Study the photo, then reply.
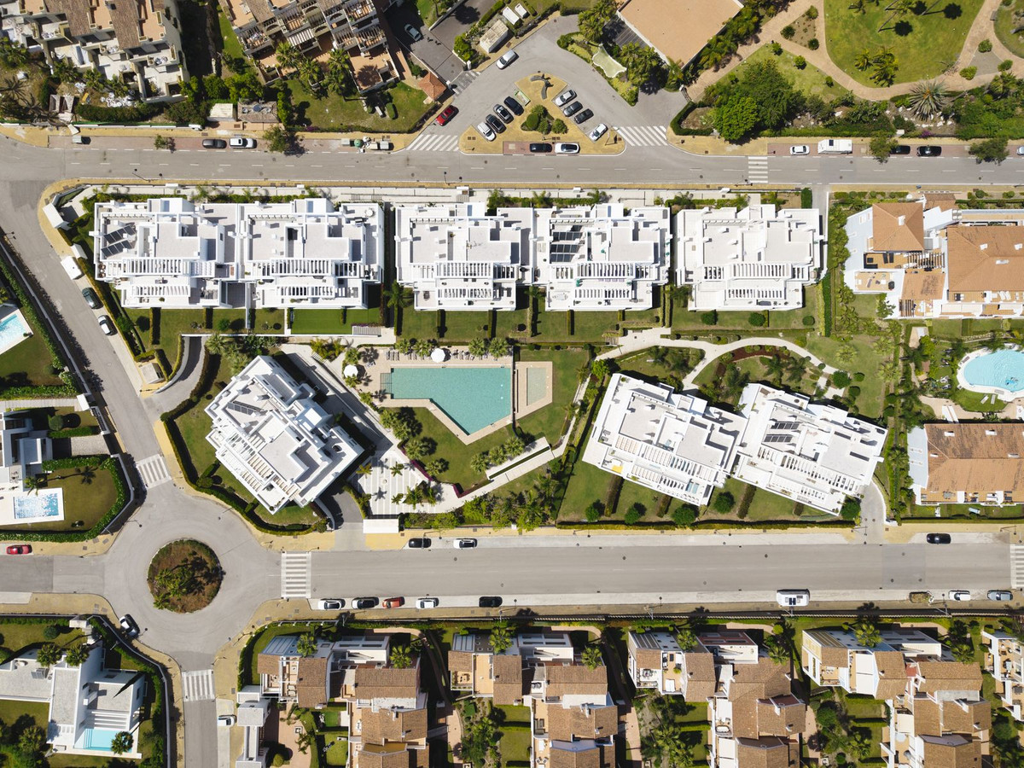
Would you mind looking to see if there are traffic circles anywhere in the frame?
Yes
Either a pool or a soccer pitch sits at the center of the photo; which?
pool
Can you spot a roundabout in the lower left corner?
Yes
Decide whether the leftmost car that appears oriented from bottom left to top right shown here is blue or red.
red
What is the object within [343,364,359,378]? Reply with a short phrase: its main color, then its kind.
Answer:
white umbrella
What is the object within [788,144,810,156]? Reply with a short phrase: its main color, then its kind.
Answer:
white vehicle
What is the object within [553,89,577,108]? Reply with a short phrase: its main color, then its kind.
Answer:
white car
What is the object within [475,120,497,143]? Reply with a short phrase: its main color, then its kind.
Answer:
white car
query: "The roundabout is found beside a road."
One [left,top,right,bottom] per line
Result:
[104,492,271,669]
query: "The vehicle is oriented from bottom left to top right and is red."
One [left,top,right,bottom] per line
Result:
[435,104,458,127]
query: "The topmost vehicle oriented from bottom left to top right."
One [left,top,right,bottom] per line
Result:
[495,49,518,71]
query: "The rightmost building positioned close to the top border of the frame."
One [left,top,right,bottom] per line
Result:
[610,0,743,72]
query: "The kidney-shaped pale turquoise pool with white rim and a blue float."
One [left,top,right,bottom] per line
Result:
[958,343,1024,399]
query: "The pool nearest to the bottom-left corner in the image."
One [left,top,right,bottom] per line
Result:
[47,726,141,759]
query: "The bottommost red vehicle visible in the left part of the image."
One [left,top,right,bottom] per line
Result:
[382,596,404,608]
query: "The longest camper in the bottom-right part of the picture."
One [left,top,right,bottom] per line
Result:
[774,589,811,607]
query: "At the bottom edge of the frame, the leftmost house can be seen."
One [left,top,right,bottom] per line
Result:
[0,634,147,753]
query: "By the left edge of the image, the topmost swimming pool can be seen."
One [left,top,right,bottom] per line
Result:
[0,314,33,354]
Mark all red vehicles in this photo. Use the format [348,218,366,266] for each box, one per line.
[8,544,31,555]
[382,596,404,608]
[435,104,458,127]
